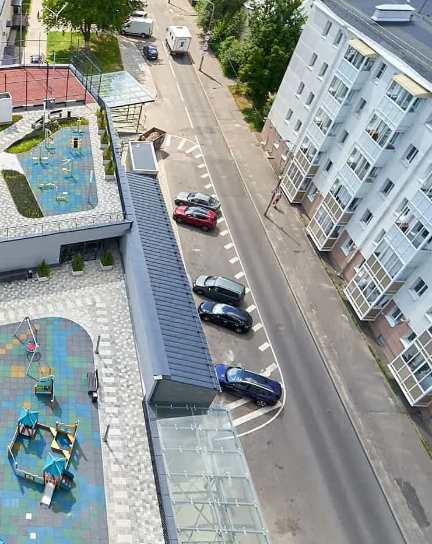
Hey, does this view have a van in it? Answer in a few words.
Yes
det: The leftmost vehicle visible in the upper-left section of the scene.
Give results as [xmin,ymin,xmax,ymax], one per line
[28,51,46,65]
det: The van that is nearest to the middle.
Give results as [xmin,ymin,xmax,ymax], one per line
[189,274,250,306]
